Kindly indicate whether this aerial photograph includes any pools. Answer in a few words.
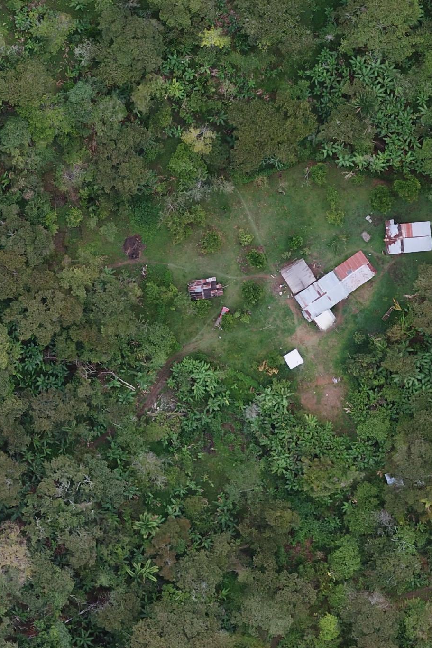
No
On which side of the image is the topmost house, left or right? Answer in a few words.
right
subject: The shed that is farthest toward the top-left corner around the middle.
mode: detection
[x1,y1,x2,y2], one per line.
[189,277,228,300]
